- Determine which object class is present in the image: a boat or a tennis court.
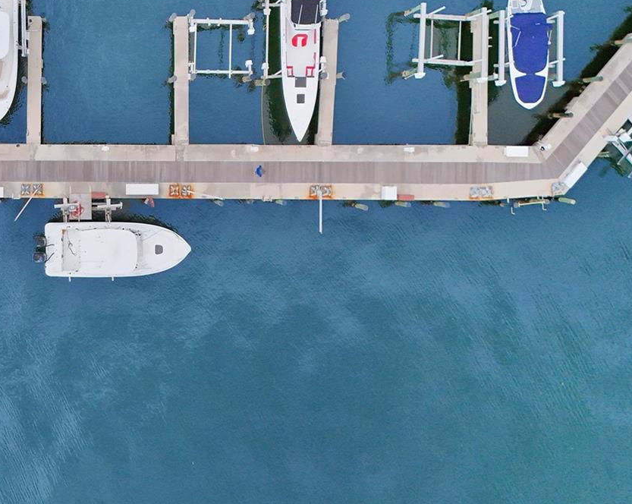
boat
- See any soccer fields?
No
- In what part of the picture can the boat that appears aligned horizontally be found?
left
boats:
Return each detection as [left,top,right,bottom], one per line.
[0,0,19,119]
[280,0,321,142]
[504,0,553,110]
[33,222,192,277]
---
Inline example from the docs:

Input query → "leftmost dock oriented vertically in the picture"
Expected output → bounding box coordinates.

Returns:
[26,15,44,145]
